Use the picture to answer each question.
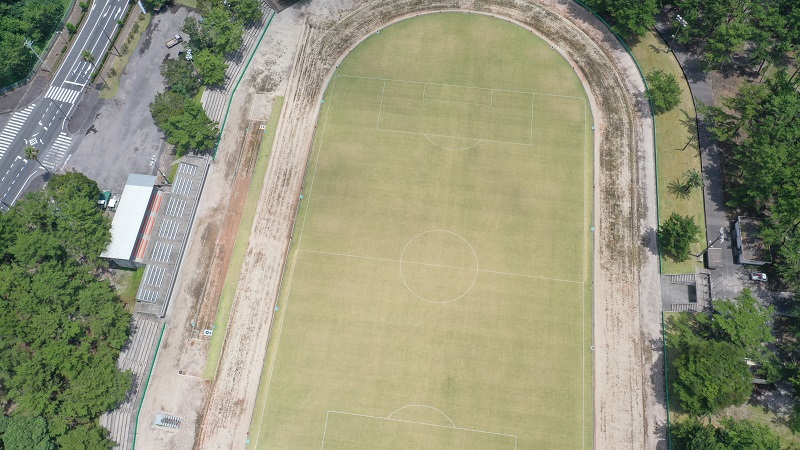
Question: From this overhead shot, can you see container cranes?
No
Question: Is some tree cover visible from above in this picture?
Yes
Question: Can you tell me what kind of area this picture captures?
sports ground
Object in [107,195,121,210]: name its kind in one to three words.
vehicle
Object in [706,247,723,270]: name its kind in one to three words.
shed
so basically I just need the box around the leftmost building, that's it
[100,174,160,264]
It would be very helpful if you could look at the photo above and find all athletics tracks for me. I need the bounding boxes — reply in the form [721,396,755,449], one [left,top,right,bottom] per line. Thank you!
[197,0,645,450]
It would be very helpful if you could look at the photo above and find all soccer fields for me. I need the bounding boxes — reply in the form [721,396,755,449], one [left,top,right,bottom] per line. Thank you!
[246,13,593,450]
